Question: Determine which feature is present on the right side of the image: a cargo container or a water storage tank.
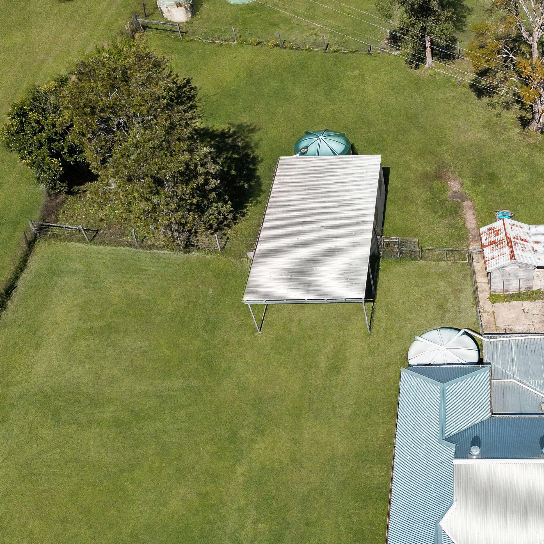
water storage tank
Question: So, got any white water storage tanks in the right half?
Yes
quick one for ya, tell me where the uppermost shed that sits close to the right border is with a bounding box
[479,216,544,293]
